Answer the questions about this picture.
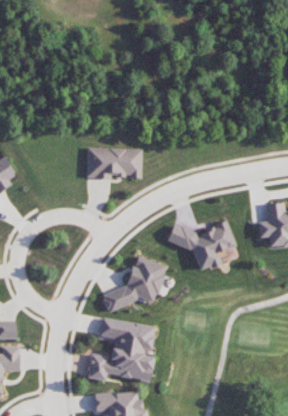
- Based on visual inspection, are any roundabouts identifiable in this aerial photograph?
No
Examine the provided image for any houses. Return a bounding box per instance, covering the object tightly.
[0,323,18,340]
[90,392,148,416]
[170,225,238,270]
[88,148,144,180]
[103,256,172,314]
[0,347,20,382]
[89,316,162,386]
[260,202,288,250]
[0,158,16,192]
